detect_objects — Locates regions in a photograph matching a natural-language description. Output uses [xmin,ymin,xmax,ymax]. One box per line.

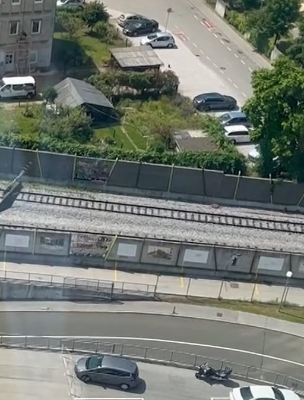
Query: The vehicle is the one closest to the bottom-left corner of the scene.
[74,353,142,391]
